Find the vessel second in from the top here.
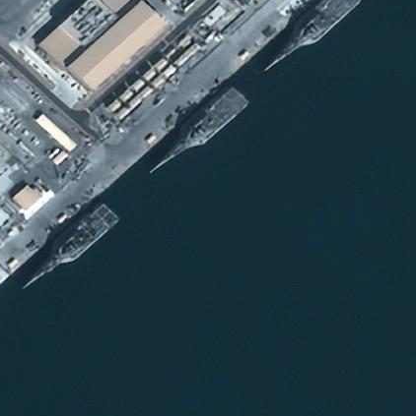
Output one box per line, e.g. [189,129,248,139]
[136,83,250,172]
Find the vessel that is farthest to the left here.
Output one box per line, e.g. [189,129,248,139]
[20,197,120,288]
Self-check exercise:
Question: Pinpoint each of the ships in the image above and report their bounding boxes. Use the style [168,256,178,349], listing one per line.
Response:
[264,0,364,71]
[136,83,250,172]
[20,197,120,288]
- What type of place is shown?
port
